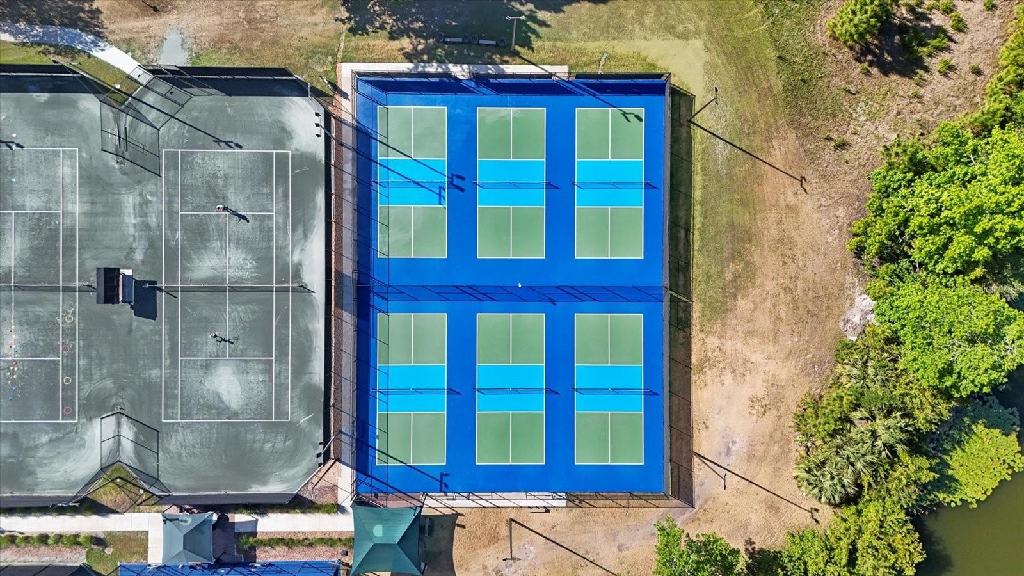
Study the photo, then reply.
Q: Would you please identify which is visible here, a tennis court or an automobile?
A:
tennis court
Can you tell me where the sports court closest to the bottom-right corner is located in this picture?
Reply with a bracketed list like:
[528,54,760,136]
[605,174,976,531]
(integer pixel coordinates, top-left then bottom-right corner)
[575,313,644,465]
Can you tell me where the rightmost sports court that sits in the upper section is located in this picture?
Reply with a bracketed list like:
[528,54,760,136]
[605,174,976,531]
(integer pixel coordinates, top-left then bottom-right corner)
[576,108,644,259]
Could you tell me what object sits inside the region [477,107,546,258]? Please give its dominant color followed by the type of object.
green sports court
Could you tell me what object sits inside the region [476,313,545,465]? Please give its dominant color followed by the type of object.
green sports court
